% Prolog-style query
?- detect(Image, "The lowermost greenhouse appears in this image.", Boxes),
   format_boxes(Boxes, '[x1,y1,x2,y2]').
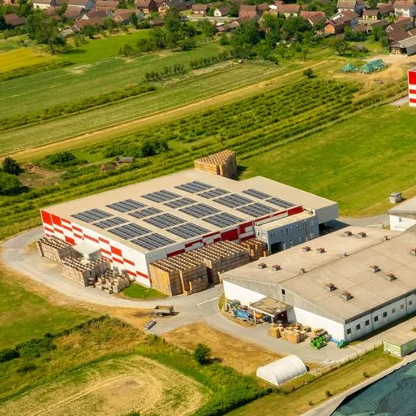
[254,351,309,385]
